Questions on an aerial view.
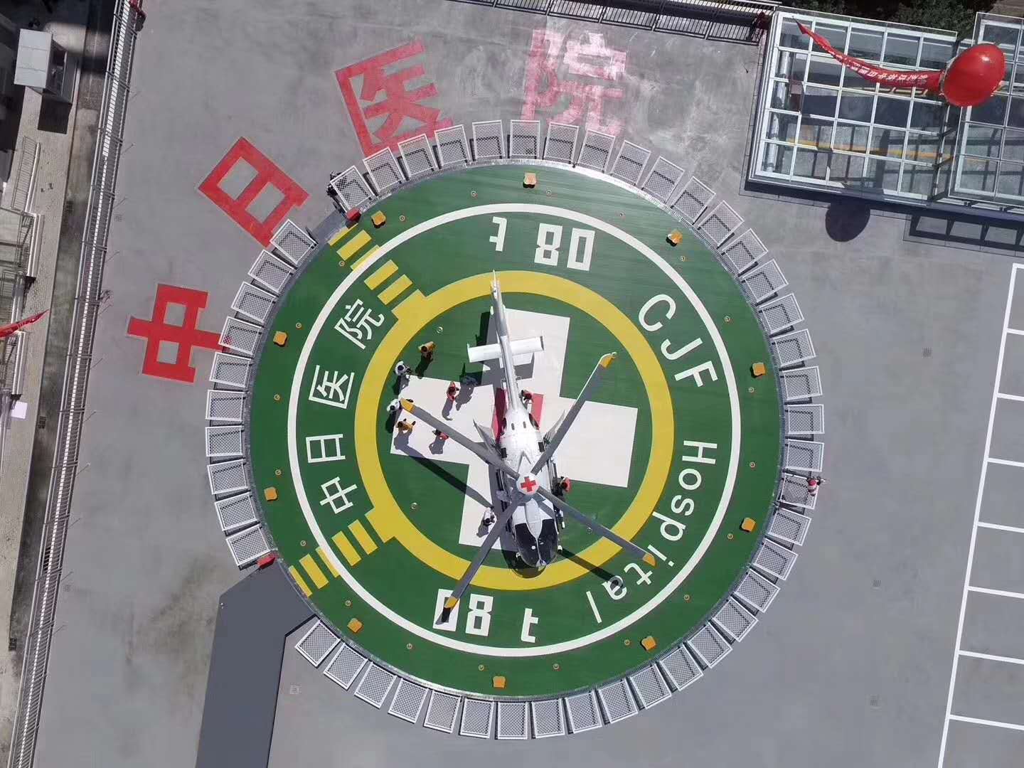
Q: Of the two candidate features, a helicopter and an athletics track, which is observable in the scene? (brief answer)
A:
helicopter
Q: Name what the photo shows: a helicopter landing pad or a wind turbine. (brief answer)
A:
helicopter landing pad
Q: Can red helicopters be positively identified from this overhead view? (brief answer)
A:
No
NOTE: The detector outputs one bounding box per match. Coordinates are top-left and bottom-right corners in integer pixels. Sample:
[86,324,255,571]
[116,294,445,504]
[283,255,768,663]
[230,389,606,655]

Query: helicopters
[403,273,653,608]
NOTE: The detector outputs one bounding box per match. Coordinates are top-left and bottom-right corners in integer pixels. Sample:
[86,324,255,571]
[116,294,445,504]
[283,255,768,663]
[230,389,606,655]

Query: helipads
[240,154,790,705]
